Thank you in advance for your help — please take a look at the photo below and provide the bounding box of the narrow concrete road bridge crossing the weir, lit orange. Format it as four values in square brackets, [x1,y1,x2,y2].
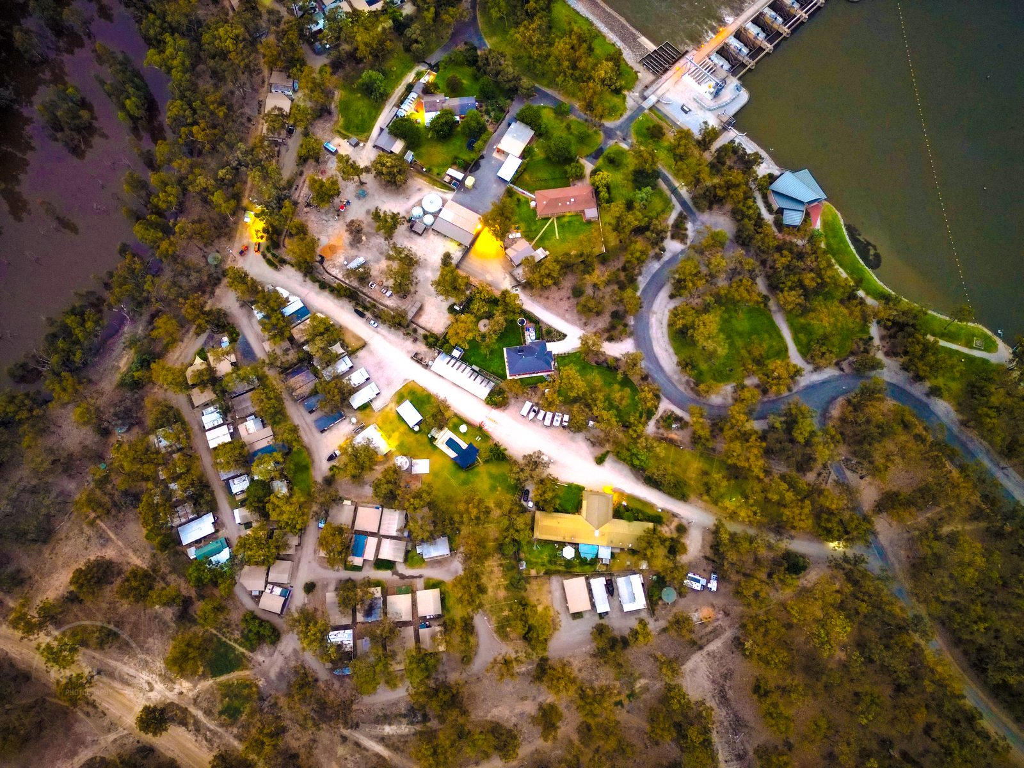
[642,0,776,110]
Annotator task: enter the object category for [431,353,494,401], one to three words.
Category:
shed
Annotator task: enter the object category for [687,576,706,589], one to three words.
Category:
vehicle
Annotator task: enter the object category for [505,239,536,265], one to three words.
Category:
house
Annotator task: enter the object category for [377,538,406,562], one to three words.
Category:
building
